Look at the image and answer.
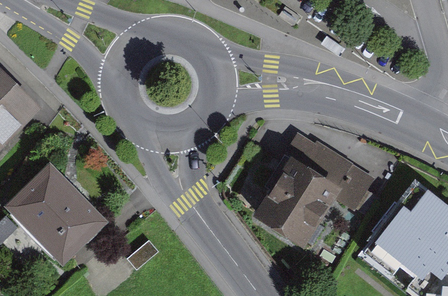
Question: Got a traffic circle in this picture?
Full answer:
Yes, the picture does show a traffic circle.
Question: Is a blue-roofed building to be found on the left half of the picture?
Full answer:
No, the scene shows no blue-roofed building on the left half of the picture.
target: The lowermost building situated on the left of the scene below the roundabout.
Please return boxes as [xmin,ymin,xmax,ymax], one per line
[126,241,158,271]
